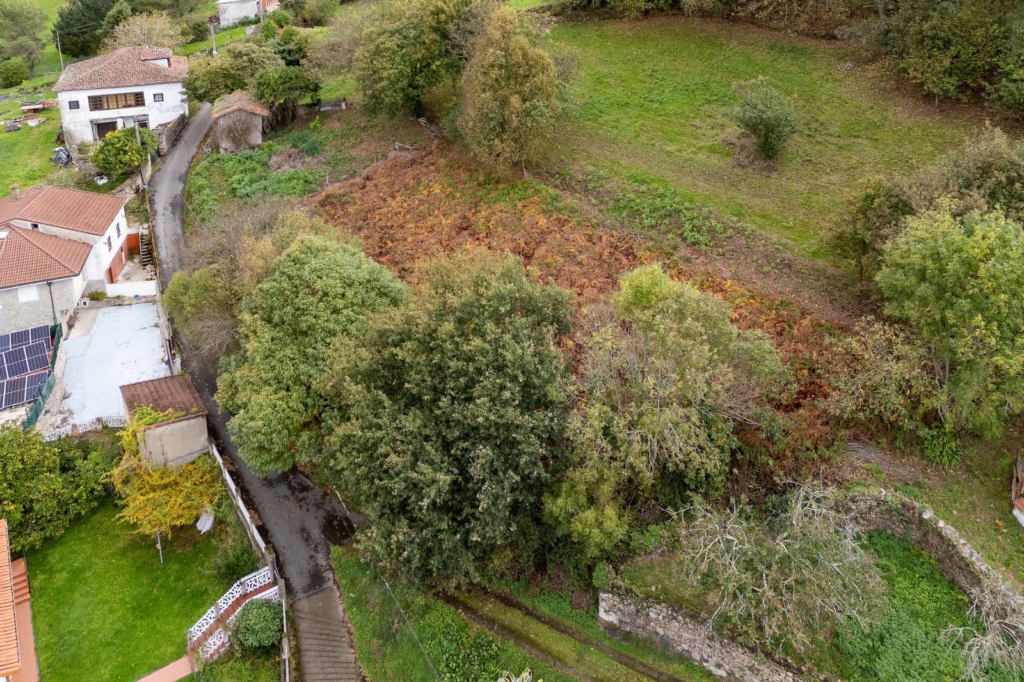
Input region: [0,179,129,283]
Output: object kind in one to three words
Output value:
house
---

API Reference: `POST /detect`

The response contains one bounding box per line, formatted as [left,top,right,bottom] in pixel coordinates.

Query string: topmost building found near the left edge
[51,42,192,152]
